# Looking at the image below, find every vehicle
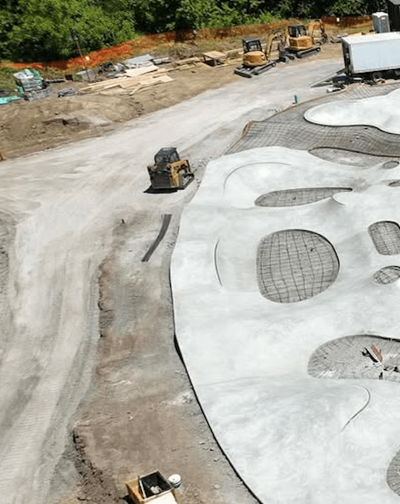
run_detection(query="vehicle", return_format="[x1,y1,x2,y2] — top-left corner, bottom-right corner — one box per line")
[282,7,329,58]
[232,28,280,79]
[314,30,400,85]
[144,144,192,194]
